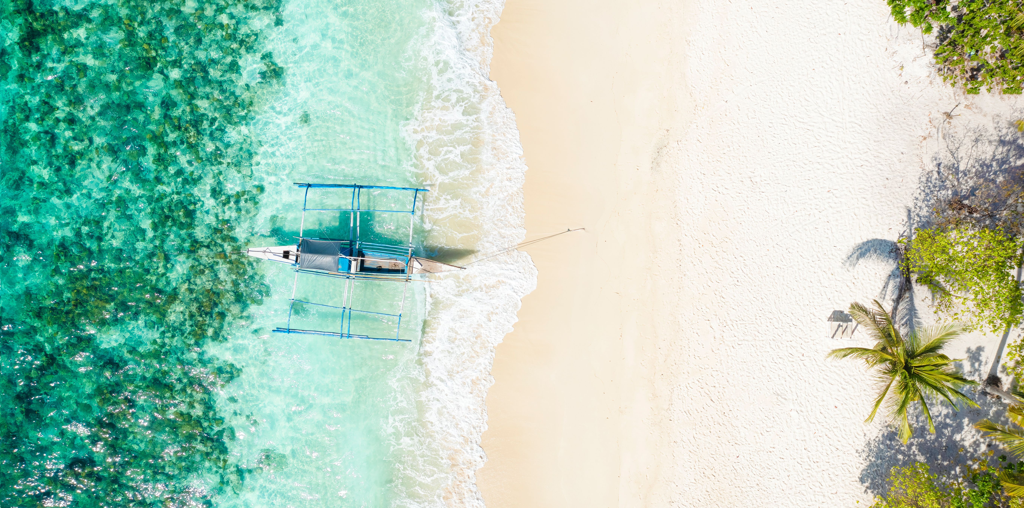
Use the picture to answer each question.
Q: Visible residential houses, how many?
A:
0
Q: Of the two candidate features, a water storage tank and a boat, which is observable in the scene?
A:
boat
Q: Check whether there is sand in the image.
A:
Yes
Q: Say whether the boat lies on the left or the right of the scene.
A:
left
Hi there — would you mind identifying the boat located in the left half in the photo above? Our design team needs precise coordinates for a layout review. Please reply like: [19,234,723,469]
[241,182,467,342]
